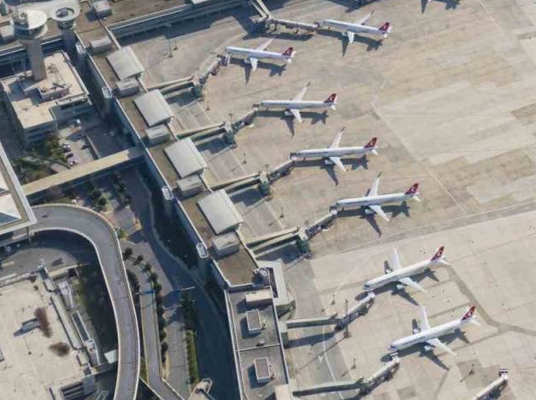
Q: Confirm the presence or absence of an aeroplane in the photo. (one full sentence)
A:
Yes, the image includes an aeroplane.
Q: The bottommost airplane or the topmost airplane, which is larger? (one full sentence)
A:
The bottommost airplane takes up more space than the topmost airplane.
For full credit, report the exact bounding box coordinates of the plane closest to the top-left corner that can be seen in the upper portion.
[226,35,294,69]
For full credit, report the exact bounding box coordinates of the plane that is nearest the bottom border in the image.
[390,301,479,357]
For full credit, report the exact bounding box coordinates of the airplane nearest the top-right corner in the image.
[323,13,389,43]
